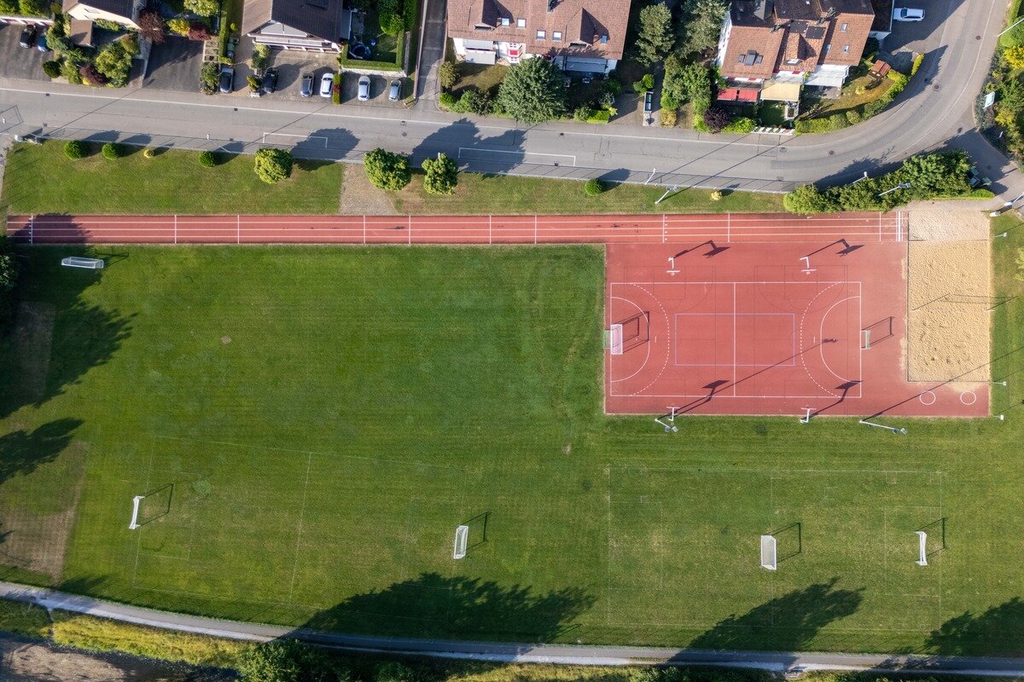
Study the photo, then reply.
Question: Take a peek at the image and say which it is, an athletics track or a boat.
athletics track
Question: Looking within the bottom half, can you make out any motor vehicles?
No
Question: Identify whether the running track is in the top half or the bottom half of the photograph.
top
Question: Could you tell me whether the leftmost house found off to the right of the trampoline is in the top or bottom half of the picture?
top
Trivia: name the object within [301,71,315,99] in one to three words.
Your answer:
car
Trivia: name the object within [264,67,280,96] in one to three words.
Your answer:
car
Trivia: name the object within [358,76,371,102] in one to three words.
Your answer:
vehicle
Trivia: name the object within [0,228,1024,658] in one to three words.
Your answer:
sports field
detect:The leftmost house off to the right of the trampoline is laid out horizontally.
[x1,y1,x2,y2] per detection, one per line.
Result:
[448,0,630,83]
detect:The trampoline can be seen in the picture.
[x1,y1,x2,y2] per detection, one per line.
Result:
[351,42,371,62]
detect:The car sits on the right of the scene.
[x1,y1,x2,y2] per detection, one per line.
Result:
[894,7,924,23]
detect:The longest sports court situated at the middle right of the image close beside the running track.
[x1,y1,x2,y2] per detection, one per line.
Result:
[604,242,992,419]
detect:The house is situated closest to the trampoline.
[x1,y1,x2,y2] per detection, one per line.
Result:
[241,0,356,55]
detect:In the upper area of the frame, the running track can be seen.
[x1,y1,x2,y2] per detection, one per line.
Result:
[7,211,908,245]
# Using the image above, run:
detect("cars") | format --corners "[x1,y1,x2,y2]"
[321,72,335,99]
[264,67,280,96]
[219,66,234,94]
[358,76,371,102]
[389,79,402,103]
[36,31,52,55]
[301,71,315,99]
[20,25,39,52]
[894,7,924,23]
